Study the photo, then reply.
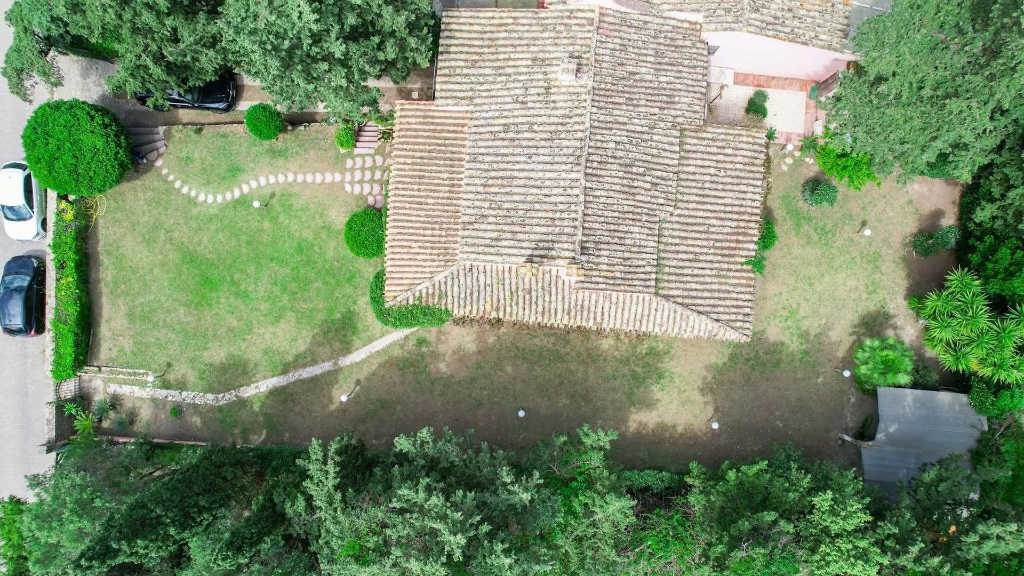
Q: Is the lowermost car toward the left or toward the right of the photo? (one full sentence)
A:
You can find the lowermost car on the left side of the picture.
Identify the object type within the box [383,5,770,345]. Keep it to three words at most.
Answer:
house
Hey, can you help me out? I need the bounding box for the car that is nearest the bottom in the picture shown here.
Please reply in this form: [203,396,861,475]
[0,255,45,337]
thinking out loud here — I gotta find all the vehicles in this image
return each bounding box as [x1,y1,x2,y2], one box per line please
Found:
[135,73,239,116]
[0,255,45,337]
[0,161,48,241]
